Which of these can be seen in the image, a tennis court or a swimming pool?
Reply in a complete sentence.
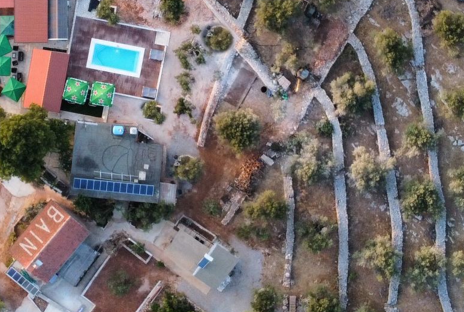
Looking from above, you can make out a swimming pool.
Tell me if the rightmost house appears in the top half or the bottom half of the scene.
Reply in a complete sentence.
The rightmost house is in the bottom half of the image.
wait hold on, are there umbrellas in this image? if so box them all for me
[2,78,26,100]
[0,35,12,54]
[90,82,115,108]
[64,78,89,106]
[0,58,12,76]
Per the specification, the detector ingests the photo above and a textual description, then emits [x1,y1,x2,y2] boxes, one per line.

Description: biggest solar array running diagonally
[6,265,40,296]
